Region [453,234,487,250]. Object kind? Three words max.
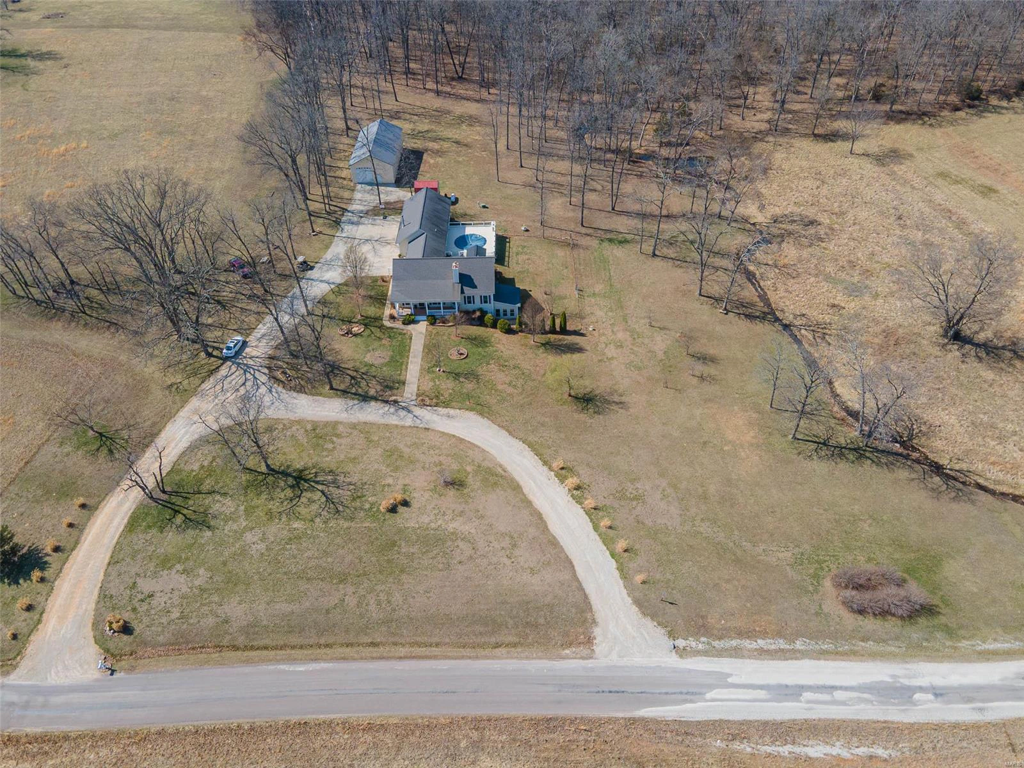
swimming pool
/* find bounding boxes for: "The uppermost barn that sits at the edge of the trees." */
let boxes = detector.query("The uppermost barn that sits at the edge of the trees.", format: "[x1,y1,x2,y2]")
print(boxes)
[348,119,403,183]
